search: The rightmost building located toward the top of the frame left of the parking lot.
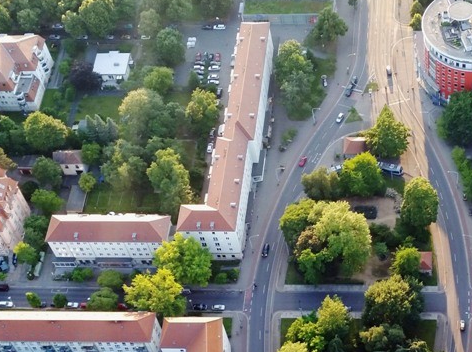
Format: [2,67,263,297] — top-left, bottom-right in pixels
[95,53,131,83]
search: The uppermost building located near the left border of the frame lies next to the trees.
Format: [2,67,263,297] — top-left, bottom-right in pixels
[0,33,58,113]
